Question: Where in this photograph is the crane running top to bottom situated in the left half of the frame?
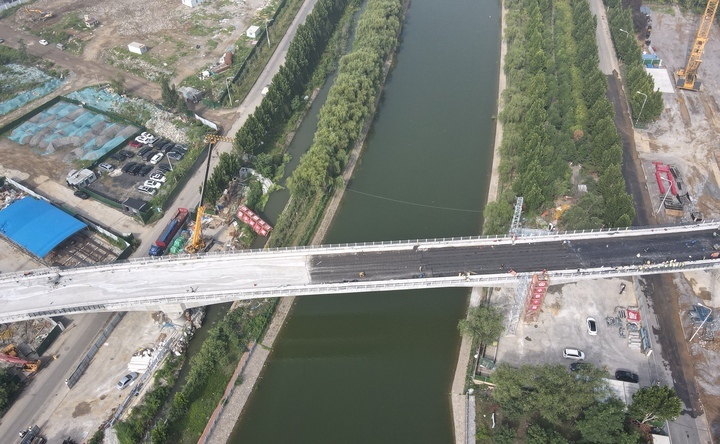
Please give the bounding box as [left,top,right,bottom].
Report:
[175,133,242,253]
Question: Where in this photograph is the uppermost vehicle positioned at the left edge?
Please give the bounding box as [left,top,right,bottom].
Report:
[29,4,53,20]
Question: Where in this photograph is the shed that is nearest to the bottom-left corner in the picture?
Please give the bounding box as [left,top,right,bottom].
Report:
[0,196,93,269]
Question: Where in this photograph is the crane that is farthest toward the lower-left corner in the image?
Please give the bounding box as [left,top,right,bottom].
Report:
[0,353,45,379]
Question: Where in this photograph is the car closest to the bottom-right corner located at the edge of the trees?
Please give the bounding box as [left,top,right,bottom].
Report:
[615,368,639,383]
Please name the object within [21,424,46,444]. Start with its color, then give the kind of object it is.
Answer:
gray vehicle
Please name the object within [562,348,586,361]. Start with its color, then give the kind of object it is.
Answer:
white vehicle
